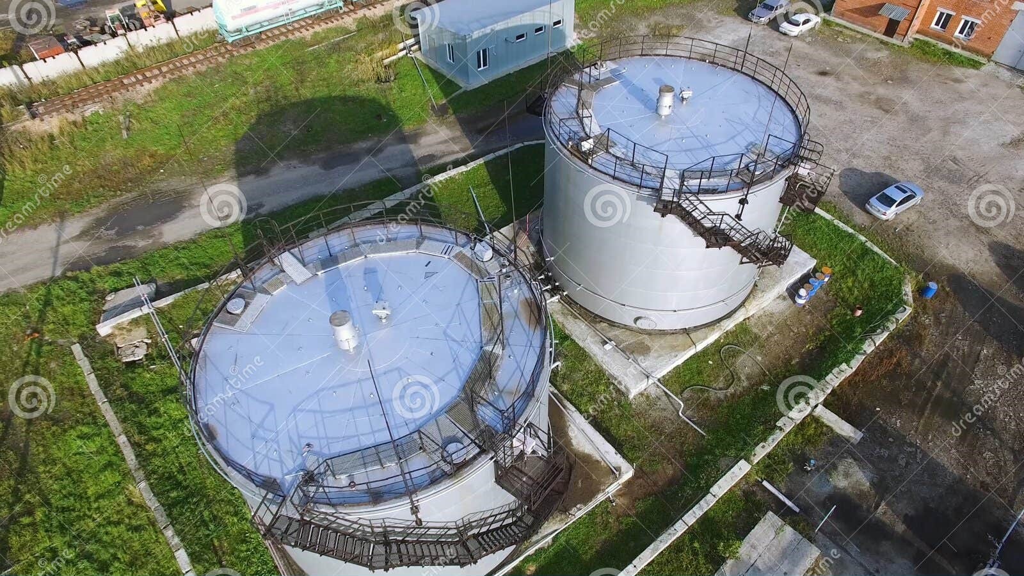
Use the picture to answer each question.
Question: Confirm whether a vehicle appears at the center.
No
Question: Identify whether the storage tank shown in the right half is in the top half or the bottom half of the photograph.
top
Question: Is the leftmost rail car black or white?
white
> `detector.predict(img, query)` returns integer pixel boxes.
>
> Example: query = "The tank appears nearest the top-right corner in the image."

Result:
[519,0,833,334]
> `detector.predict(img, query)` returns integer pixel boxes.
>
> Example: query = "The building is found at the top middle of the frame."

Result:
[414,0,575,91]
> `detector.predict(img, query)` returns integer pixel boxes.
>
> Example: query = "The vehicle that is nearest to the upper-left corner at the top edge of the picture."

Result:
[100,8,126,39]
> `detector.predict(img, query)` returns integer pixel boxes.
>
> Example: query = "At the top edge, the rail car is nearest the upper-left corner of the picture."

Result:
[217,0,349,48]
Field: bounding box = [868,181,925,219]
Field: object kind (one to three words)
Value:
car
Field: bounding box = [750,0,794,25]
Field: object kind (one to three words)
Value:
car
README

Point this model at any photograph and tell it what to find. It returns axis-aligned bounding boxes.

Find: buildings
[414,0,575,91]
[820,0,1024,78]
[14,25,67,63]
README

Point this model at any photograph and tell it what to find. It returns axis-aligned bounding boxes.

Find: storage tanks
[176,98,581,576]
[519,0,833,334]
